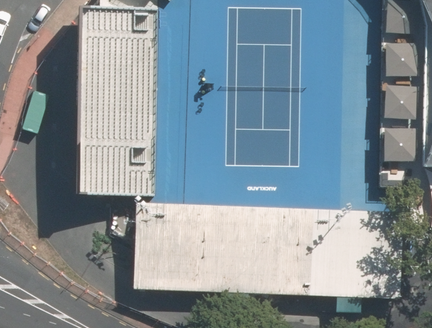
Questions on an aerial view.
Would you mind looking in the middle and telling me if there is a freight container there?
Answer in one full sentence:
No, the scene shows no freight container in the middle.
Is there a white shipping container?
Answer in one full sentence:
No, I can see no white shipping container in this picture.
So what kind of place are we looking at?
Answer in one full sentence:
This looks like a sports ground.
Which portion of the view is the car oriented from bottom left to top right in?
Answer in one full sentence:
The car oriented from bottom left to top right sits in the top left section of the image.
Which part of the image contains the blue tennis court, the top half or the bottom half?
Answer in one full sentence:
You can find the blue tennis court in the top half.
